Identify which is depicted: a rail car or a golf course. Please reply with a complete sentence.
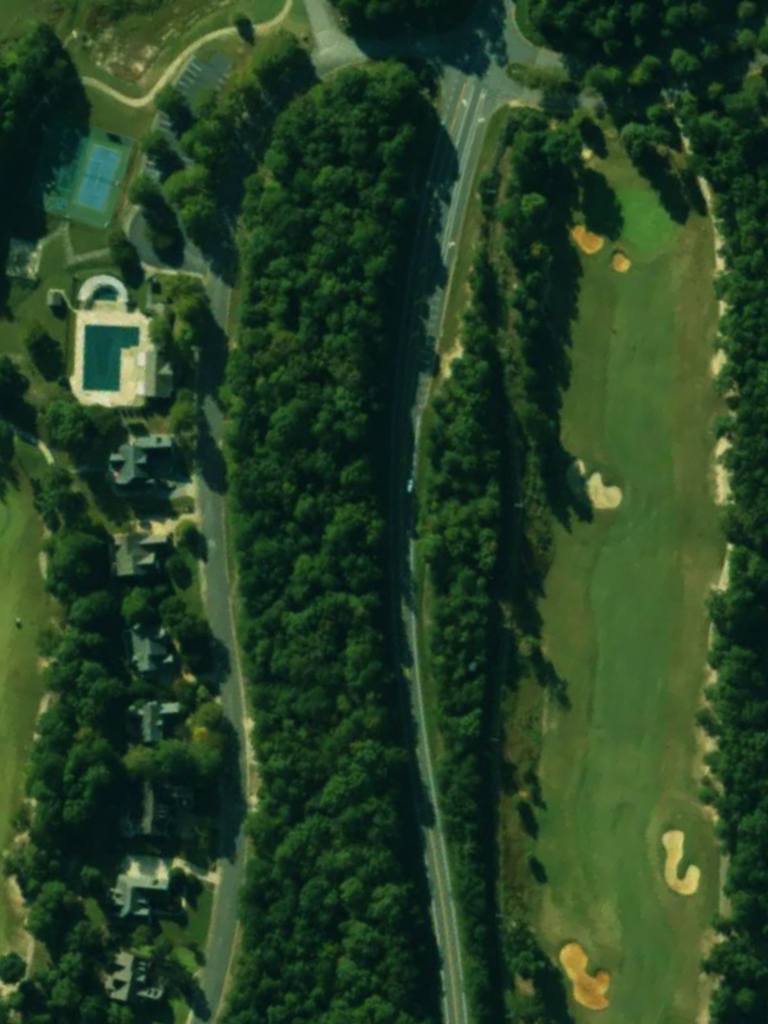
There is a golf course in the scene.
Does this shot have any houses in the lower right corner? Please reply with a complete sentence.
No, there's no house to be seen in the lower right corner.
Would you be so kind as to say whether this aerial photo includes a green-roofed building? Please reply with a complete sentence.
Yes, this view includes a green-roofed building.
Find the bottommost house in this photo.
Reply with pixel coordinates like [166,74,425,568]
[103,954,164,1013]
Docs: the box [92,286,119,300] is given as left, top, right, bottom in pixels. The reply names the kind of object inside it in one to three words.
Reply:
swimming pool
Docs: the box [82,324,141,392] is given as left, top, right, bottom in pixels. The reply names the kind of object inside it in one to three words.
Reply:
swimming pool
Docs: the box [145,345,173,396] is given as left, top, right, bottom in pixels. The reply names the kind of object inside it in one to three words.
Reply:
building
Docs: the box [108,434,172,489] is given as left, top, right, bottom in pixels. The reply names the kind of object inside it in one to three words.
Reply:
house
